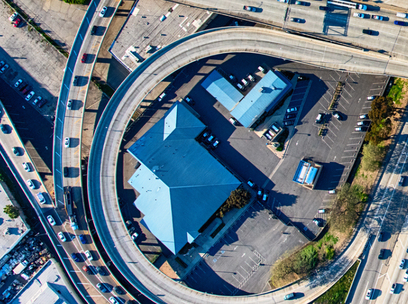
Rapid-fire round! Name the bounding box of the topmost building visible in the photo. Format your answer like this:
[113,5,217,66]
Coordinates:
[109,0,218,71]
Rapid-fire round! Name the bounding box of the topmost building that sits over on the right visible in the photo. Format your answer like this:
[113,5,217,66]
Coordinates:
[202,69,294,129]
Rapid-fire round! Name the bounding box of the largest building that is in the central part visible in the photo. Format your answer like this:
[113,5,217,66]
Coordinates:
[128,102,244,255]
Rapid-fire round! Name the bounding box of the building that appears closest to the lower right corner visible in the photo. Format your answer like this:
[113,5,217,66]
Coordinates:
[292,157,326,189]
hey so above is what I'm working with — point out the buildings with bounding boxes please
[202,69,294,129]
[0,168,38,264]
[8,256,87,304]
[128,102,244,255]
[109,0,218,71]
[292,157,326,189]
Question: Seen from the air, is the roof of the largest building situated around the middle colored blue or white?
blue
